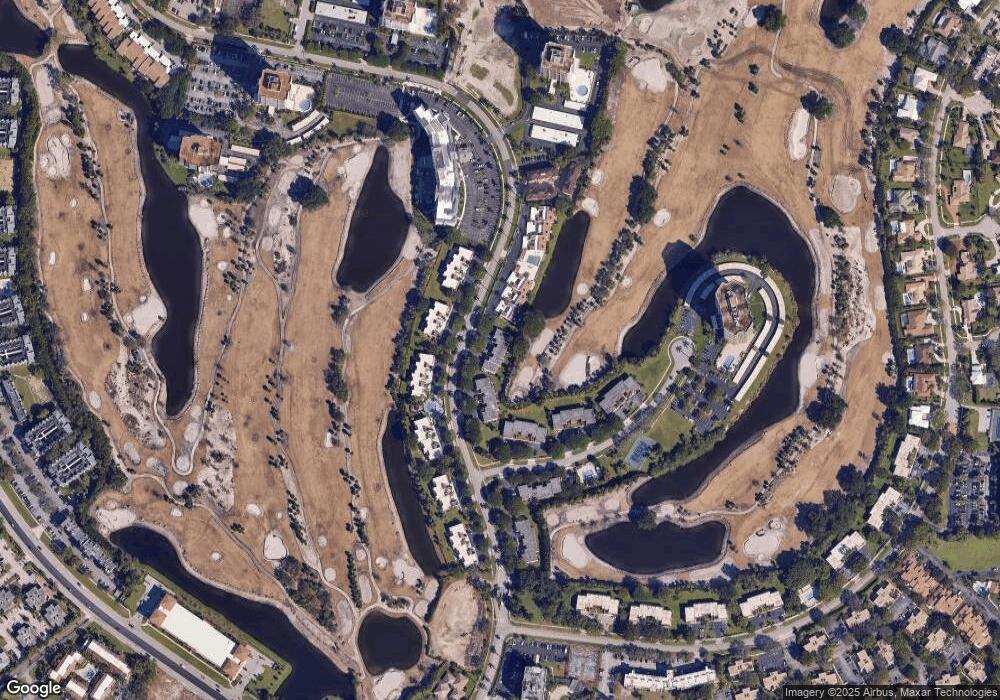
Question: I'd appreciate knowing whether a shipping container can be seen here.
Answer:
No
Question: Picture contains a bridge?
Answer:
No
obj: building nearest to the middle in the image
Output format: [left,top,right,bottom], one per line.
[481,330,509,375]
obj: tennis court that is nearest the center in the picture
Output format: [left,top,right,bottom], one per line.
[623,432,657,469]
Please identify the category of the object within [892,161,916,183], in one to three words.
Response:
house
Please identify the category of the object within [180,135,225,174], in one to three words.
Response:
building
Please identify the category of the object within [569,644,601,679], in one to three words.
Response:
tennis court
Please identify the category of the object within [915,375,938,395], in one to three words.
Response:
house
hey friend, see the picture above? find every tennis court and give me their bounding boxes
[623,432,657,469]
[569,644,601,679]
